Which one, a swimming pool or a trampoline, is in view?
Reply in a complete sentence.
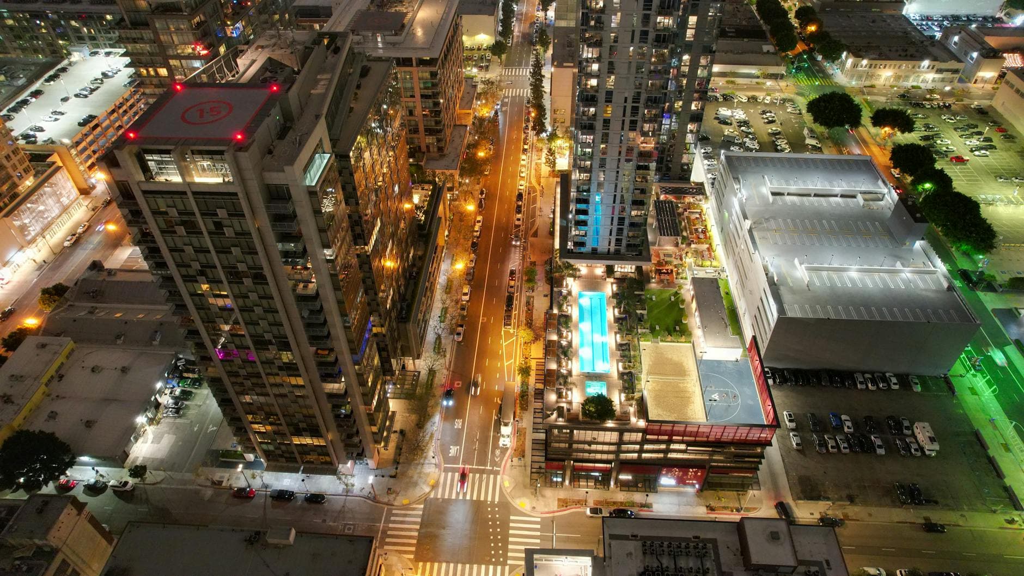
The one in the frame is a swimming pool.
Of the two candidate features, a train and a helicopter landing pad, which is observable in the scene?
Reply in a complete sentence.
The one in the frame is a helicopter landing pad.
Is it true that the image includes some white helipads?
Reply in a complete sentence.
No, no white helipad is visible in the scene.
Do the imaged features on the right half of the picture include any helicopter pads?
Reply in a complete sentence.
No, no helicopter pad is visible on the right half of the picture.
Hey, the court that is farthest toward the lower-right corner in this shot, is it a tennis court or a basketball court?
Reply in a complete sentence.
The court that is farthest toward the lower-right corner appears to be a basketball court.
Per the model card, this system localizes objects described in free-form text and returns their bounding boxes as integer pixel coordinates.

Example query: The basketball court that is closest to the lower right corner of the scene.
[697,354,769,423]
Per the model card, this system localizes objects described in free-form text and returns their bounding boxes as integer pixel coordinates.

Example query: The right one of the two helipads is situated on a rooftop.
[366,12,417,32]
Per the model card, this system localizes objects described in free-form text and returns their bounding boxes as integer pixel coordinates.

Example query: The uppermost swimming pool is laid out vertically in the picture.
[577,290,613,373]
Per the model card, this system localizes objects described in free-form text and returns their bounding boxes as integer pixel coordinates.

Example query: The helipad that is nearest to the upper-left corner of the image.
[105,84,289,148]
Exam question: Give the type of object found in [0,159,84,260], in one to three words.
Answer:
building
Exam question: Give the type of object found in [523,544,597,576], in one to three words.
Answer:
building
